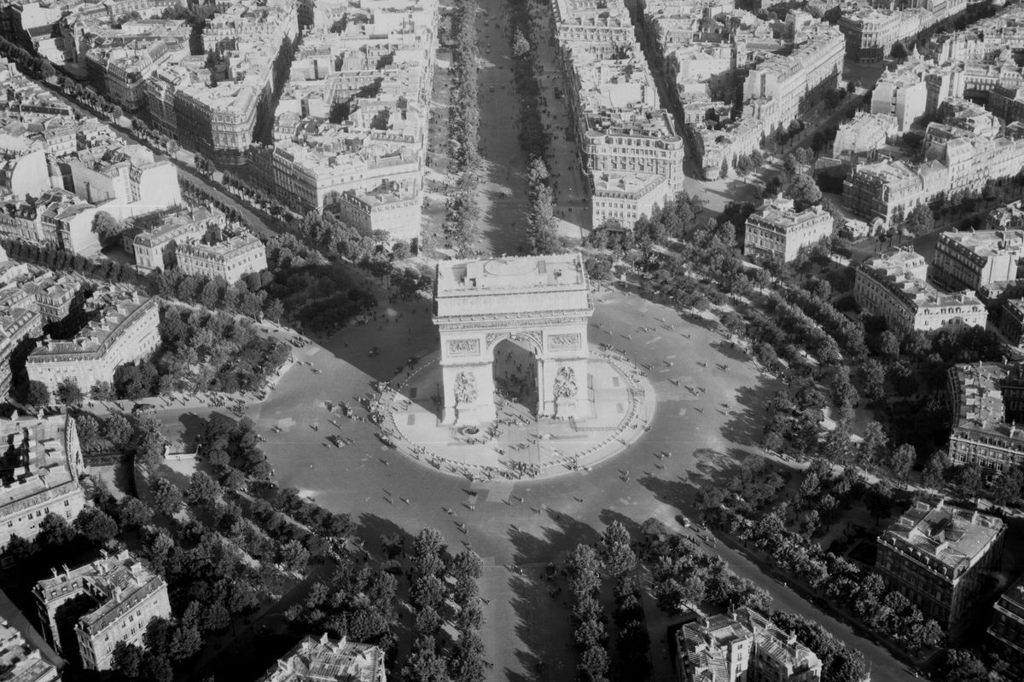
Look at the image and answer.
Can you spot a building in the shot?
Yes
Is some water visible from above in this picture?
No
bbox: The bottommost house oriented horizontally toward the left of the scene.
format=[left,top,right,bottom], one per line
[265,630,390,682]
